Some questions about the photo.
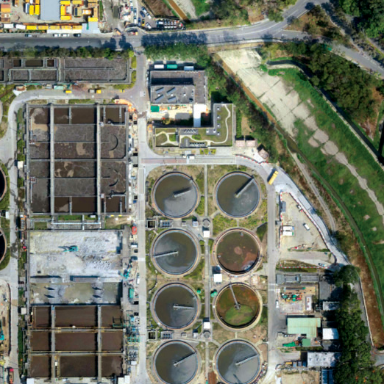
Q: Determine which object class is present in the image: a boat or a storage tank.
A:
storage tank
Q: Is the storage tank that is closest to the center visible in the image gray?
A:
Yes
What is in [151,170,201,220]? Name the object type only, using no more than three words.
storage tank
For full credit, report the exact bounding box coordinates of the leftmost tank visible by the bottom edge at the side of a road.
[28,305,126,384]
